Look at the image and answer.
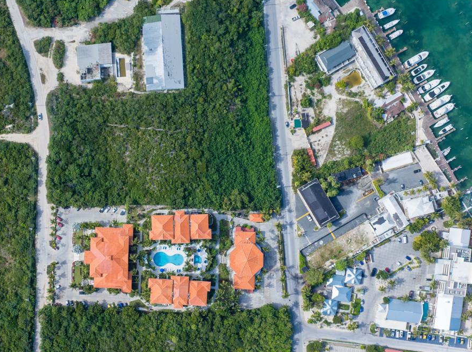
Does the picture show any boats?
Yes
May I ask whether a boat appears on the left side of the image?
No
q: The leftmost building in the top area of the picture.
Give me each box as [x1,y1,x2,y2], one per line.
[77,43,113,81]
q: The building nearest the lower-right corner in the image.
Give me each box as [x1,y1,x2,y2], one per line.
[429,294,464,331]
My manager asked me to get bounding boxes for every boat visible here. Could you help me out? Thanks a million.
[389,30,402,40]
[376,8,396,20]
[402,51,429,69]
[418,79,441,94]
[382,20,399,30]
[428,96,451,110]
[432,103,454,118]
[413,70,436,84]
[433,117,450,128]
[423,82,449,101]
[439,124,453,134]
[409,65,426,76]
